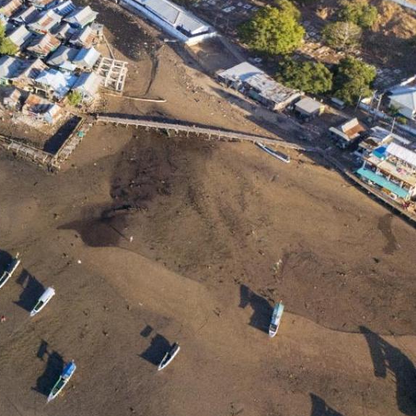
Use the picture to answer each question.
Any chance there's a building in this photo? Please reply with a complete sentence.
Yes, a building is visible in the scene.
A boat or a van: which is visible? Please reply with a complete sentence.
I can see a boat in this picture.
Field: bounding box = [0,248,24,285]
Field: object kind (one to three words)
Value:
boat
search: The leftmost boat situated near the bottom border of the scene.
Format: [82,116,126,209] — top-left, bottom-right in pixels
[49,350,81,398]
